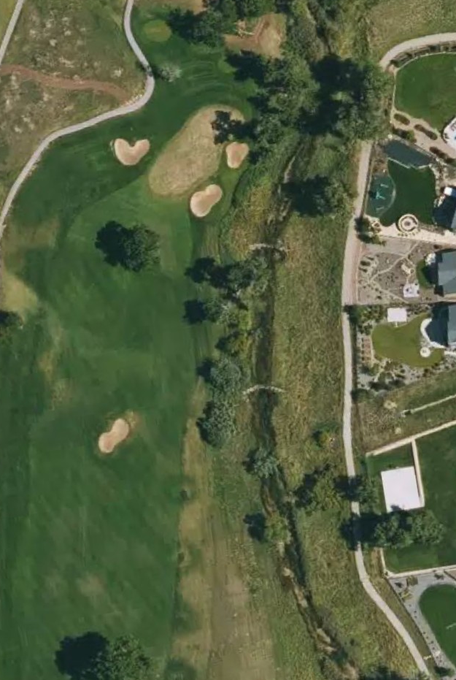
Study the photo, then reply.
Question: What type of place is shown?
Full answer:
This looks like a golf course.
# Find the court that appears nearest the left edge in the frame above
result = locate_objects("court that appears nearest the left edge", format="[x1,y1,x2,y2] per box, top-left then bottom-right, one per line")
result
[369,172,397,218]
